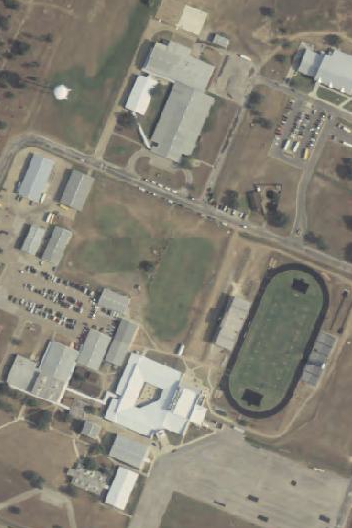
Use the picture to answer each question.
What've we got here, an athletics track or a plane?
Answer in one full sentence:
The one in the frame is an athletics track.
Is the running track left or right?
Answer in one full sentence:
The running track sits on the right side.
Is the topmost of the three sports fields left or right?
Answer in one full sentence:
The topmost of the three sports fields appears in the left half of the scene.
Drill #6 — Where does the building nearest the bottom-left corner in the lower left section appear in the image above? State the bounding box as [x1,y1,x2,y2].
[68,469,108,496]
